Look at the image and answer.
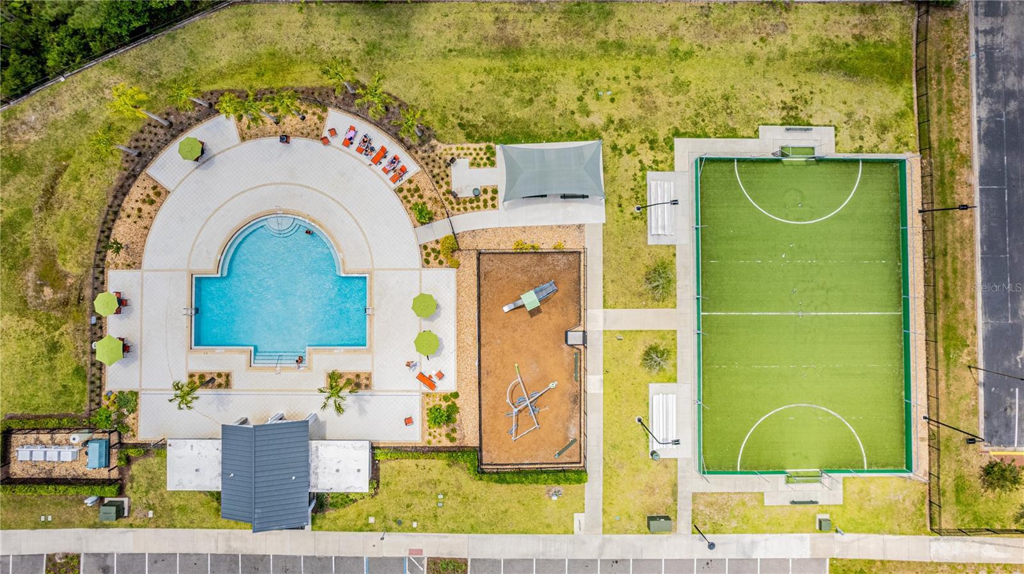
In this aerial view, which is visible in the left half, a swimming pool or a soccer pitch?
swimming pool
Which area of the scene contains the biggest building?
bottom left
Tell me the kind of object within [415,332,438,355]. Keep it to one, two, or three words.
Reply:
umbrella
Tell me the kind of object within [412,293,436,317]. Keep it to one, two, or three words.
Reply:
umbrella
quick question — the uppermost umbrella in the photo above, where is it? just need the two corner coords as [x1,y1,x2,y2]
[179,137,206,159]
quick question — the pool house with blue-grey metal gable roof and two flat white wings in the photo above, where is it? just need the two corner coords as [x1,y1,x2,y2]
[166,411,374,533]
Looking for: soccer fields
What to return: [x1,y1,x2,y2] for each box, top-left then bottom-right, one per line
[694,144,930,489]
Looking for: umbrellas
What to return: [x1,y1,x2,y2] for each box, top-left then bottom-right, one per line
[415,332,438,355]
[412,293,436,317]
[97,335,127,365]
[179,137,206,159]
[94,292,118,315]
